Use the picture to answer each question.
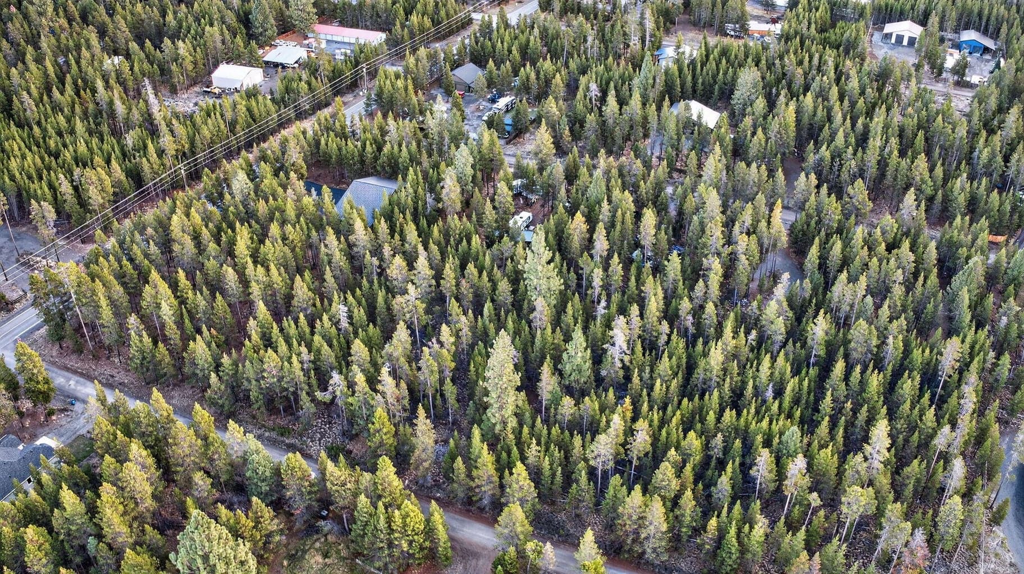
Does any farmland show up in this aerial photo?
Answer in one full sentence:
No, the picture contains no farmland.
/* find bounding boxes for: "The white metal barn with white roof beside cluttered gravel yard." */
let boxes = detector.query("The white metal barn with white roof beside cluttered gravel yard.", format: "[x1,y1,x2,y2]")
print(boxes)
[209,64,266,89]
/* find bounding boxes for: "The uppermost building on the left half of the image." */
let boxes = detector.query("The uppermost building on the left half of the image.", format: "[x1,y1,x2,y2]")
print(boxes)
[306,24,386,44]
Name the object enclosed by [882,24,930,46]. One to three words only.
building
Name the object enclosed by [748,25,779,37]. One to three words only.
building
